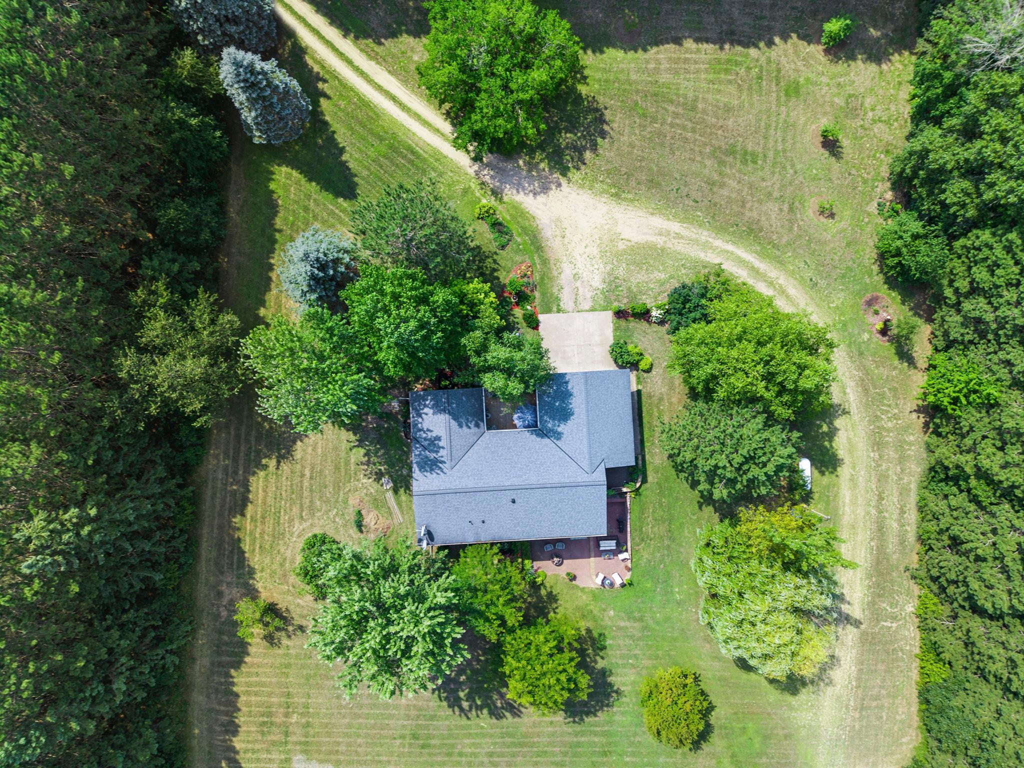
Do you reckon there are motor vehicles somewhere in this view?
No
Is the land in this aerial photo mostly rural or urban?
rural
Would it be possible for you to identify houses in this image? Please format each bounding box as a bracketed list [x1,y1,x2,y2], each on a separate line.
[397,368,637,547]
